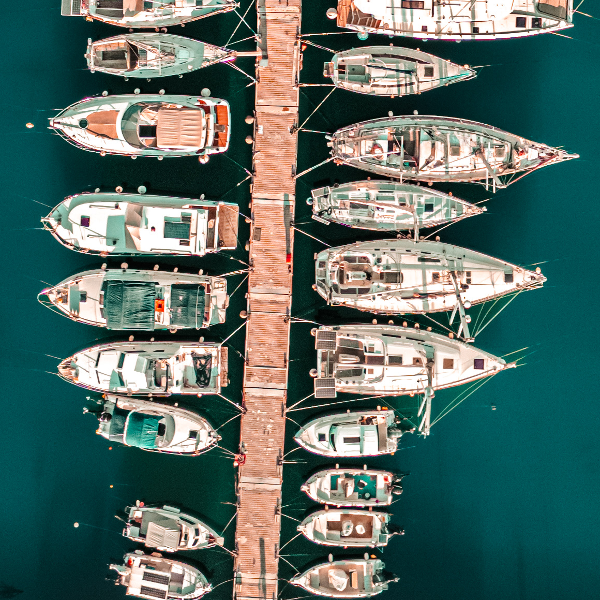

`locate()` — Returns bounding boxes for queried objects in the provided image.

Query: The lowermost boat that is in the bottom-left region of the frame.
[110,554,212,600]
